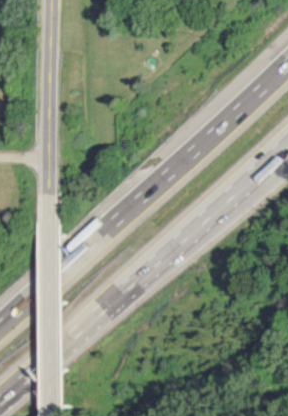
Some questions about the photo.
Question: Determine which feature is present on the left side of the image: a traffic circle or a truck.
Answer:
truck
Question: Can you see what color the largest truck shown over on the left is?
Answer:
white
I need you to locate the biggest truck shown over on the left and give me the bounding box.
[64,222,102,257]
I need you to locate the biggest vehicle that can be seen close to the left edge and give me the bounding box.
[10,290,38,318]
